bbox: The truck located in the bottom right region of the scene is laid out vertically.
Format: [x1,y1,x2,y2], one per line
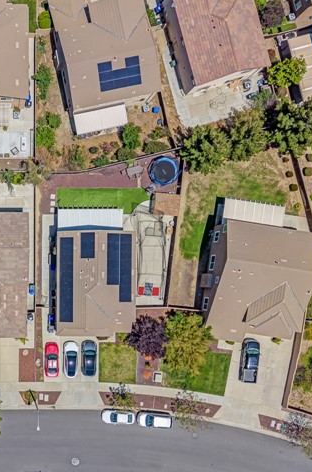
[240,339,262,384]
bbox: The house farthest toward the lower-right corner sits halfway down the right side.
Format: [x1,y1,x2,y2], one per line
[200,196,312,348]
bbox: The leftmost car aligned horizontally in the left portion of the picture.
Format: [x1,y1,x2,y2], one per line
[100,409,137,427]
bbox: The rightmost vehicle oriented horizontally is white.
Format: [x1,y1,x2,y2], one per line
[136,411,174,429]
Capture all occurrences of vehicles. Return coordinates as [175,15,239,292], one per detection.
[136,411,174,429]
[81,340,98,377]
[62,341,80,378]
[240,339,262,384]
[43,341,61,378]
[100,409,137,427]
